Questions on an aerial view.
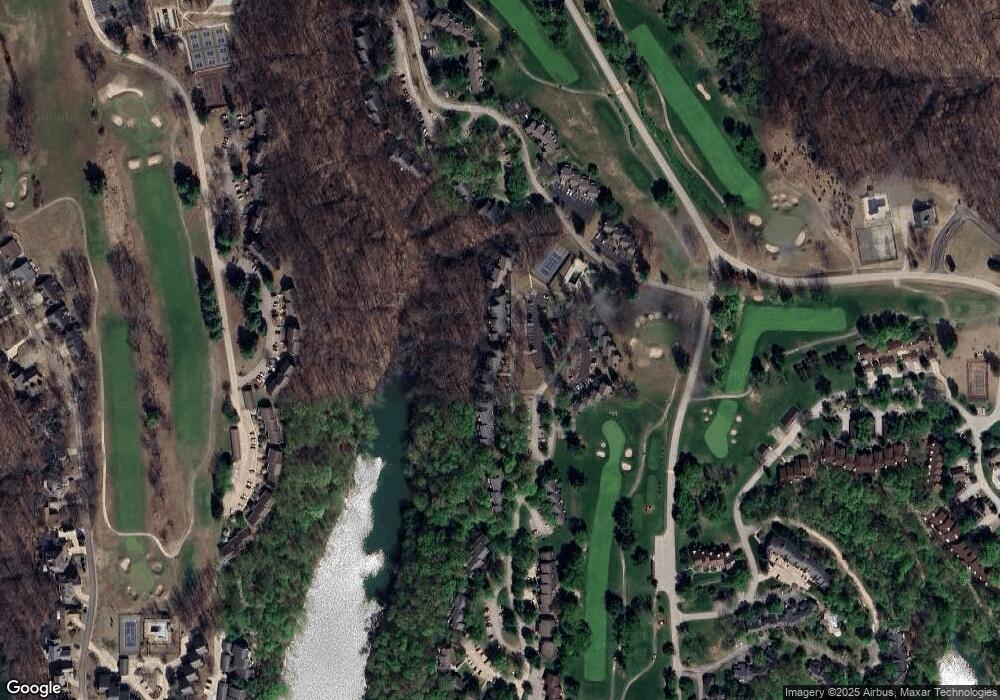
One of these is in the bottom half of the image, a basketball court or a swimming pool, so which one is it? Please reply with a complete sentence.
There is a swimming pool in the bottom half of the image.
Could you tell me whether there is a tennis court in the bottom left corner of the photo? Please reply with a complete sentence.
Yes, there is a tennis court in the bottom left corner of the photo.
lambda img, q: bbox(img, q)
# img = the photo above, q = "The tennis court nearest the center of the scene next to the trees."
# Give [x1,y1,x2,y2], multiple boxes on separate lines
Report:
[535,245,570,283]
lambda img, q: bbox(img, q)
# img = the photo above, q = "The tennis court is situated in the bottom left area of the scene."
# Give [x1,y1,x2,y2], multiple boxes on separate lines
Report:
[119,613,140,655]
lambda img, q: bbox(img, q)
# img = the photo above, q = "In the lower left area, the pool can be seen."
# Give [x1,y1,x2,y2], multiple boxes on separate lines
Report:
[146,613,173,649]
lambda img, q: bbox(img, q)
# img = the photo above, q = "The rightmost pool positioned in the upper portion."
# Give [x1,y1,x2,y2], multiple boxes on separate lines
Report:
[859,190,892,226]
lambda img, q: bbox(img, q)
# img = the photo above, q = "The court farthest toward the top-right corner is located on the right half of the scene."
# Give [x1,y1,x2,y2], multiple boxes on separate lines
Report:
[859,226,898,262]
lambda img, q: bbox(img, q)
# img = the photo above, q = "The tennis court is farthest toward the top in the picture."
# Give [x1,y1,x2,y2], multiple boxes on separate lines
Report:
[186,23,231,72]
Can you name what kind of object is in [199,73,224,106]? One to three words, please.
tennis court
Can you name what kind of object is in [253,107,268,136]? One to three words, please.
building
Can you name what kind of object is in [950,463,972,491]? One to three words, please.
house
